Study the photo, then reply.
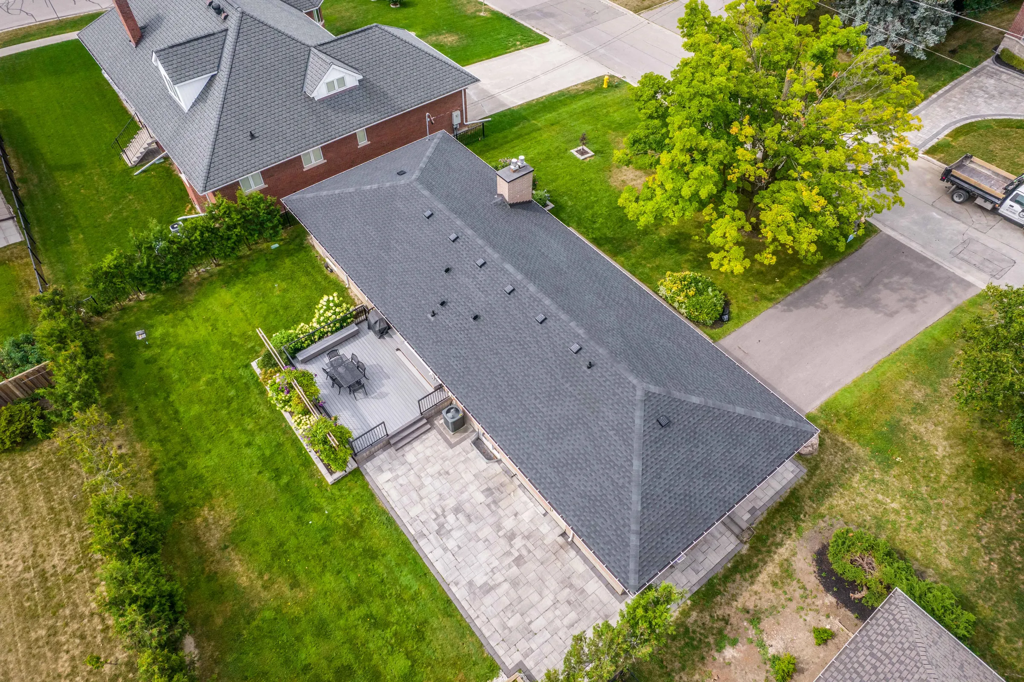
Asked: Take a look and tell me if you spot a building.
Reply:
Yes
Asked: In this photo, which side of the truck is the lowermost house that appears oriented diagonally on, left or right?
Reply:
to its left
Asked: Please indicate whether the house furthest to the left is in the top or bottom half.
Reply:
top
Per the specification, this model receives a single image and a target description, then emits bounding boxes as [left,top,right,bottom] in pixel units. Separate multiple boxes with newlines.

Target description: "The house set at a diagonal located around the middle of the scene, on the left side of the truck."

[281,113,820,598]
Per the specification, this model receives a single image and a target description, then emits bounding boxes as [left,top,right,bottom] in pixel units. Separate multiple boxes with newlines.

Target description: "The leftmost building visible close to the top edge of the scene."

[75,0,493,218]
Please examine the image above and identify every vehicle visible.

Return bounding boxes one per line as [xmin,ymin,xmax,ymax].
[937,152,1024,235]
